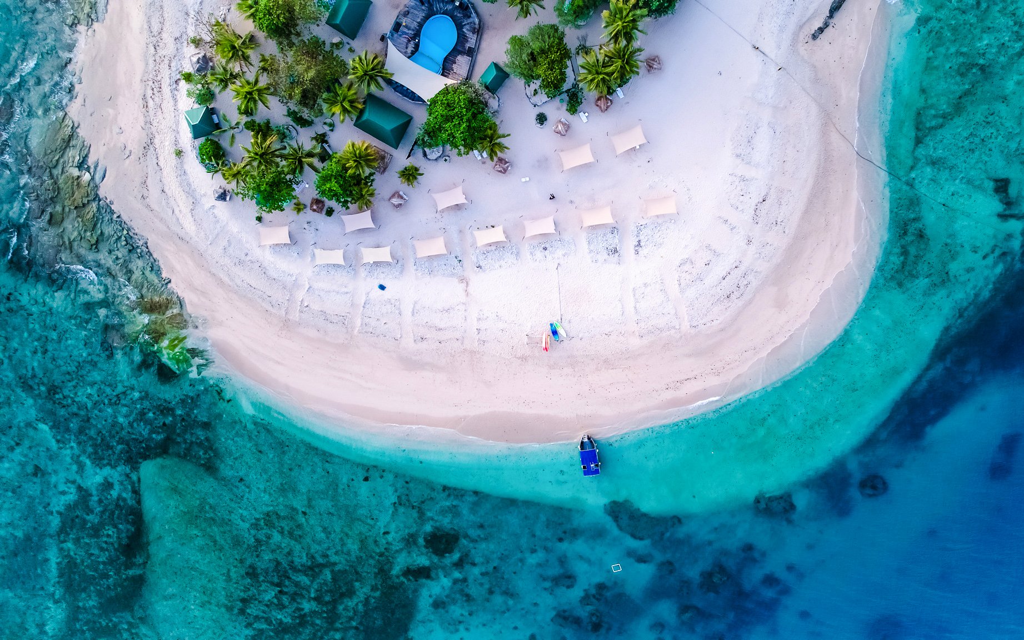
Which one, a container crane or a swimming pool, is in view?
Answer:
swimming pool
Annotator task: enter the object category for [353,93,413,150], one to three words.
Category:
shed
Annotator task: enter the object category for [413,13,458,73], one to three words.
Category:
swimming pool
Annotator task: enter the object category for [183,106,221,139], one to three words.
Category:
shed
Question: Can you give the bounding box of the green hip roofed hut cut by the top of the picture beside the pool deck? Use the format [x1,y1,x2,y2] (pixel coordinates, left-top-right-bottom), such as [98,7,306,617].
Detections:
[329,0,373,40]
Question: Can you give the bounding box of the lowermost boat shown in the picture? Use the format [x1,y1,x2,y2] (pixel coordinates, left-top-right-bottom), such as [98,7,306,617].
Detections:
[578,431,601,477]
